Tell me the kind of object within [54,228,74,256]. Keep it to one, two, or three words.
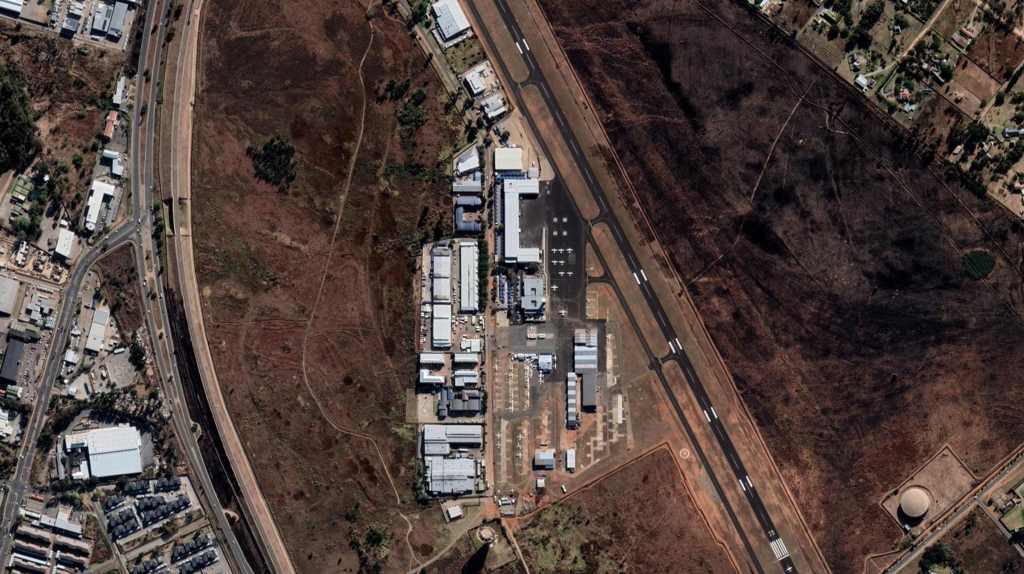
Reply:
building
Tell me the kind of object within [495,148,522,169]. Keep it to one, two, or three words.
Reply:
hangar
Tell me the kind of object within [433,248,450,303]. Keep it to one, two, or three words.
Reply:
building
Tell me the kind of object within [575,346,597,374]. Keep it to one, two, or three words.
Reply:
hangar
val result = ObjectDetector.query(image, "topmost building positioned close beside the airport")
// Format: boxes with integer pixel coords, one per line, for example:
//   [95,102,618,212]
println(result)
[433,0,470,38]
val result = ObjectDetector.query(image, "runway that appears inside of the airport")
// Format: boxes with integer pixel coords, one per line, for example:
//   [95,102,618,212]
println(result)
[493,0,798,574]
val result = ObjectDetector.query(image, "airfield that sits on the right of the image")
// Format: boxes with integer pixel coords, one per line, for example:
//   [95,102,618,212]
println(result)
[466,0,798,574]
